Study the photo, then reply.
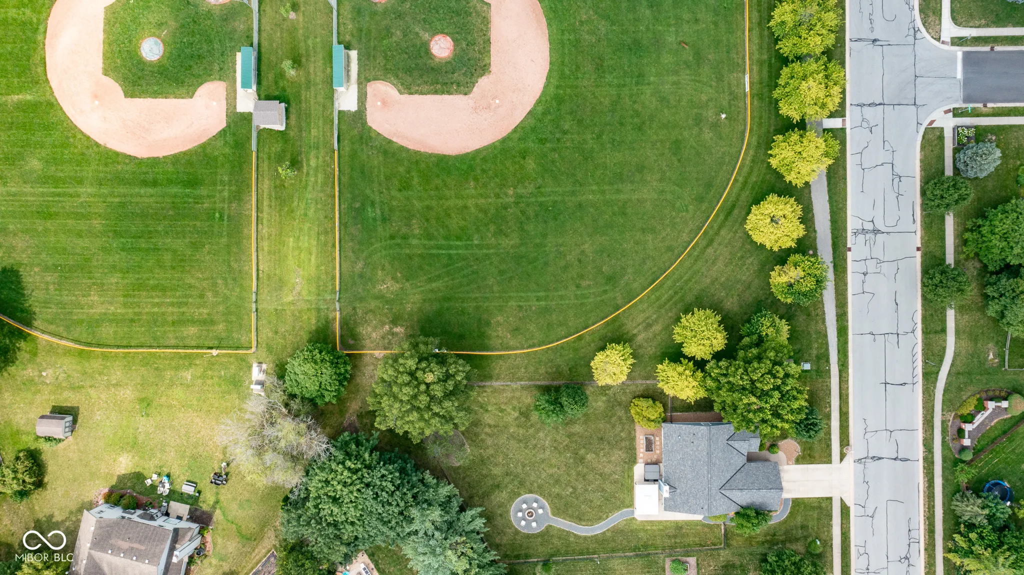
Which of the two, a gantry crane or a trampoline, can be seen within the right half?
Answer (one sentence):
It is a trampoline that can be seen within the right half.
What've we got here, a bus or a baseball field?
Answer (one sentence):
The one in the frame is a baseball field.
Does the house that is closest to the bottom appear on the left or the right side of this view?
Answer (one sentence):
The house that is closest to the bottom sits on the left side.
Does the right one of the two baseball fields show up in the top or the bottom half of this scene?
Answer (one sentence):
You can find the right one of the two baseball fields in the top half.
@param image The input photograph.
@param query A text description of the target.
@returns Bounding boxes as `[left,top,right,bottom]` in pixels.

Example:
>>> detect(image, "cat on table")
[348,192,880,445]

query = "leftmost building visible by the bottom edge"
[72,502,206,575]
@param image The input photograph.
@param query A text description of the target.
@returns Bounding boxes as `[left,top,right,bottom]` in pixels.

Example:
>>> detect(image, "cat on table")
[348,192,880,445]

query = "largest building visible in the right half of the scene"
[655,422,783,516]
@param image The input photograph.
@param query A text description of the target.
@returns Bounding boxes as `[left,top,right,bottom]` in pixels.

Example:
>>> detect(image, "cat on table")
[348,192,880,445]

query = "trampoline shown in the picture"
[984,476,1020,506]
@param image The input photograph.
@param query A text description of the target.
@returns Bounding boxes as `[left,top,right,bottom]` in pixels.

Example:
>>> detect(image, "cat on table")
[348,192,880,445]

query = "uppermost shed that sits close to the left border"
[35,414,82,438]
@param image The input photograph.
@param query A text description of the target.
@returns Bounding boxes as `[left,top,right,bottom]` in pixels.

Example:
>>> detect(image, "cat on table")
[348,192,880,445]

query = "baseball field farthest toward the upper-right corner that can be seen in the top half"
[338,0,748,352]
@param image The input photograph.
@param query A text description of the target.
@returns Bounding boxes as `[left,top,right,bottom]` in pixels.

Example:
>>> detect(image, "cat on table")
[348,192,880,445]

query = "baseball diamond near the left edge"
[0,0,257,350]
